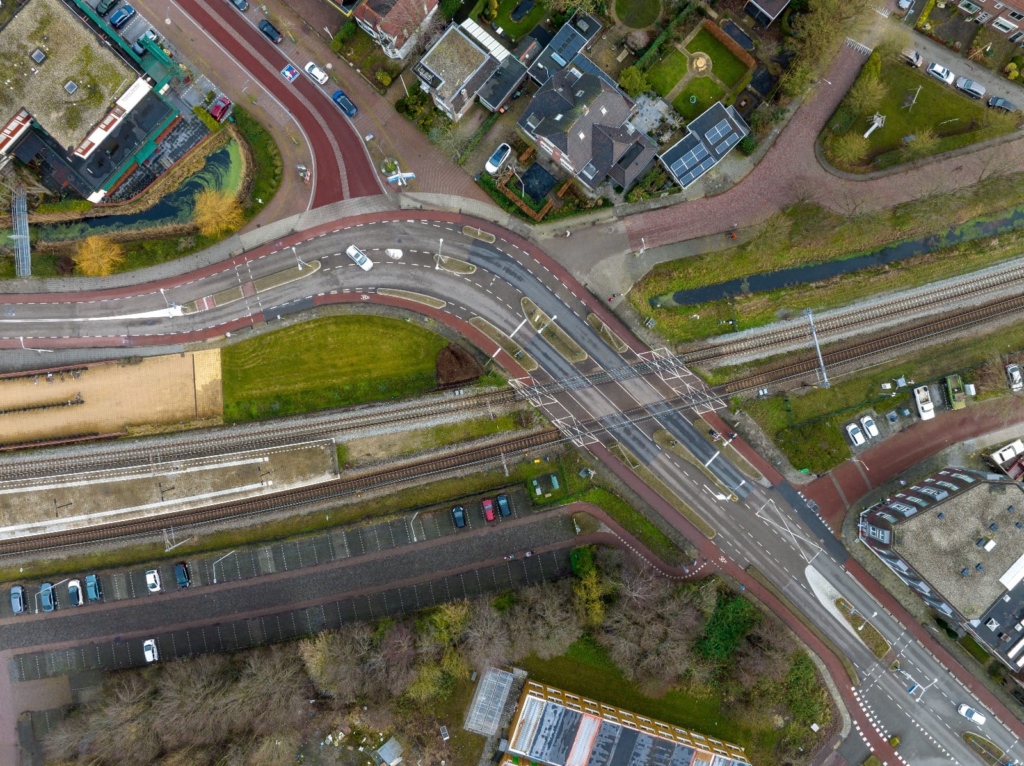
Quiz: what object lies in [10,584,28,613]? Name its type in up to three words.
car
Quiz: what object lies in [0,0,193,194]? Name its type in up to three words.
building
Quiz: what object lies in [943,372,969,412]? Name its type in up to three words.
truck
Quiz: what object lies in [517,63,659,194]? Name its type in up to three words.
house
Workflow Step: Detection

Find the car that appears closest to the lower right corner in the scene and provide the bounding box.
[954,700,986,727]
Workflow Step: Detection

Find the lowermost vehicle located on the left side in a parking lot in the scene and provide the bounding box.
[143,637,159,662]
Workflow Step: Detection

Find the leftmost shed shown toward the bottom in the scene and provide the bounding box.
[377,729,405,766]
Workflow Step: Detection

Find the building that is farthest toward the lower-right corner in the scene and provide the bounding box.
[851,472,1024,691]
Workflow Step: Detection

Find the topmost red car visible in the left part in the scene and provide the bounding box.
[209,98,234,123]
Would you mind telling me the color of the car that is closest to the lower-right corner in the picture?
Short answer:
white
